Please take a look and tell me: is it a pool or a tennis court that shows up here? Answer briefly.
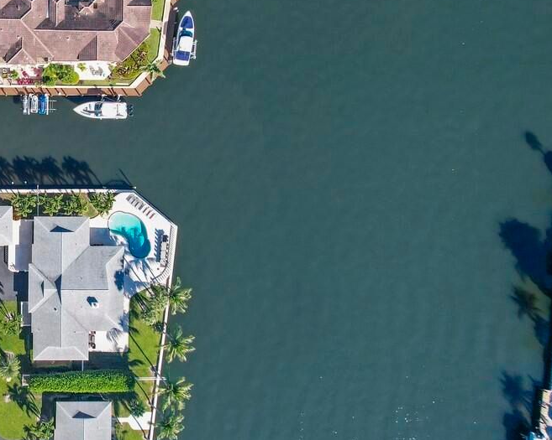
pool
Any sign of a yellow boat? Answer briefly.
No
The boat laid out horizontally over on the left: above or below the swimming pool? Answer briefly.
above it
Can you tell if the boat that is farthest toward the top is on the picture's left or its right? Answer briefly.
left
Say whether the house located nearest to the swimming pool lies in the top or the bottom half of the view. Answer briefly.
bottom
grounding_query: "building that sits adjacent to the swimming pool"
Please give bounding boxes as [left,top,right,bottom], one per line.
[12,217,128,362]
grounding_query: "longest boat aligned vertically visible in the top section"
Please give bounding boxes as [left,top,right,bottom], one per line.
[173,14,192,67]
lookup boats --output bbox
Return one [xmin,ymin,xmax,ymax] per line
[31,96,38,113]
[40,97,45,114]
[173,14,192,67]
[22,96,29,113]
[523,421,546,440]
[75,96,133,119]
